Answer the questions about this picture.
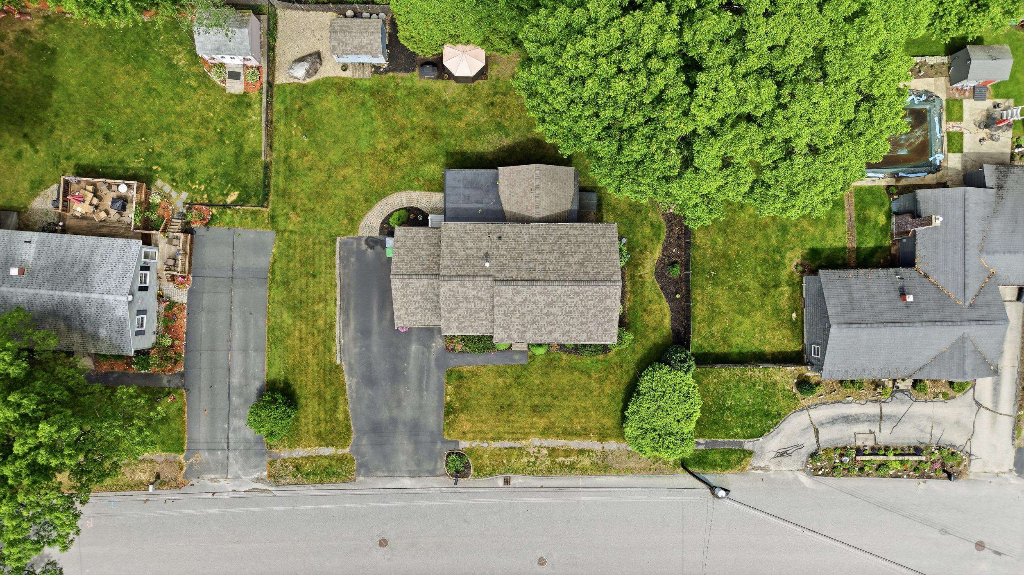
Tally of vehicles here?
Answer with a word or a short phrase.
0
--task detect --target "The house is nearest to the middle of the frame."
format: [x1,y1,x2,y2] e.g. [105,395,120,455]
[392,162,620,345]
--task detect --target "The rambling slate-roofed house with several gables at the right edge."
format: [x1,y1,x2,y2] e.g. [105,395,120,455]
[804,163,1024,382]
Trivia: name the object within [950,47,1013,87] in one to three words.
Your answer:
shed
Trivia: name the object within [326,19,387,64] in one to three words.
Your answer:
shed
